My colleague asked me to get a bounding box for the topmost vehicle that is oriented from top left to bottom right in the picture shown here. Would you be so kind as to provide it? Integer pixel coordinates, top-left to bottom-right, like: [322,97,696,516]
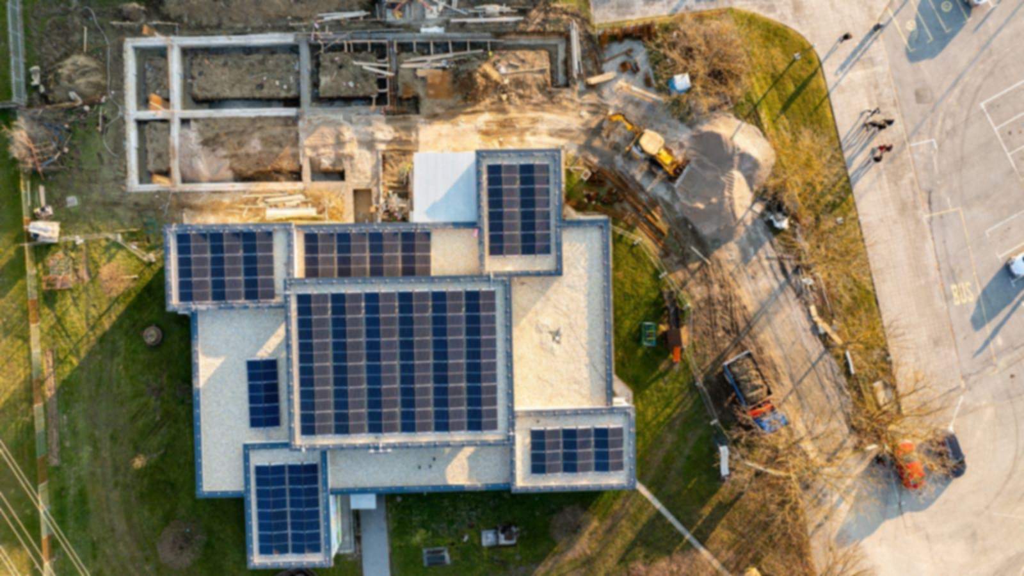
[596,121,683,191]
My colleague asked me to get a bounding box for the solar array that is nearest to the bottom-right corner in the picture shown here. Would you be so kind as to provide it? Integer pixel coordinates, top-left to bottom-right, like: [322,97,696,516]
[531,425,623,475]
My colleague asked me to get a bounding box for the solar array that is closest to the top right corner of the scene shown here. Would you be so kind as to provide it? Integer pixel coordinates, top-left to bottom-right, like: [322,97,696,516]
[488,162,551,258]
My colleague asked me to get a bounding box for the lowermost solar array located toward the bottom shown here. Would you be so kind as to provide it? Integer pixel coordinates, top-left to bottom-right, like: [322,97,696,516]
[256,462,322,556]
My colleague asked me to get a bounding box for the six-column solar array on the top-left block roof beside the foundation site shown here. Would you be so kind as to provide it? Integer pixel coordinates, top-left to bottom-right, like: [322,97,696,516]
[178,230,276,303]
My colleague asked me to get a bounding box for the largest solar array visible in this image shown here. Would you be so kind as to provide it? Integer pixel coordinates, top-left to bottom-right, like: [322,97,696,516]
[298,288,499,437]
